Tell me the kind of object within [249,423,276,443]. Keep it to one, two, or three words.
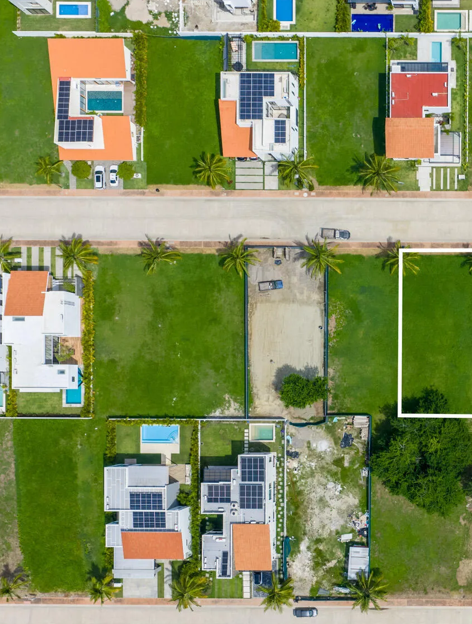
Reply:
swimming pool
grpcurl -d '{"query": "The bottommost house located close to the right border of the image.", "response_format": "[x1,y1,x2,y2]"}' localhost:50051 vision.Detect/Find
[384,63,461,167]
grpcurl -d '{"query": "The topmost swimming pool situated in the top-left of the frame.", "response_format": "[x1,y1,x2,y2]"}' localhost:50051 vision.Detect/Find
[56,1,92,19]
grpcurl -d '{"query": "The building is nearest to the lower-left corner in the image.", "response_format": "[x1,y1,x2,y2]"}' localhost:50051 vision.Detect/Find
[104,464,192,577]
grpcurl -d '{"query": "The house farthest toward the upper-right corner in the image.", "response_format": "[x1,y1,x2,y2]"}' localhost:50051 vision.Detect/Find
[432,0,461,15]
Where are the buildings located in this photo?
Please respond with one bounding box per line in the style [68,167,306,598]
[432,0,461,15]
[347,544,370,579]
[48,39,141,164]
[201,452,277,578]
[219,72,301,166]
[9,0,52,15]
[218,0,259,20]
[104,464,192,577]
[3,271,86,393]
[384,63,461,167]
